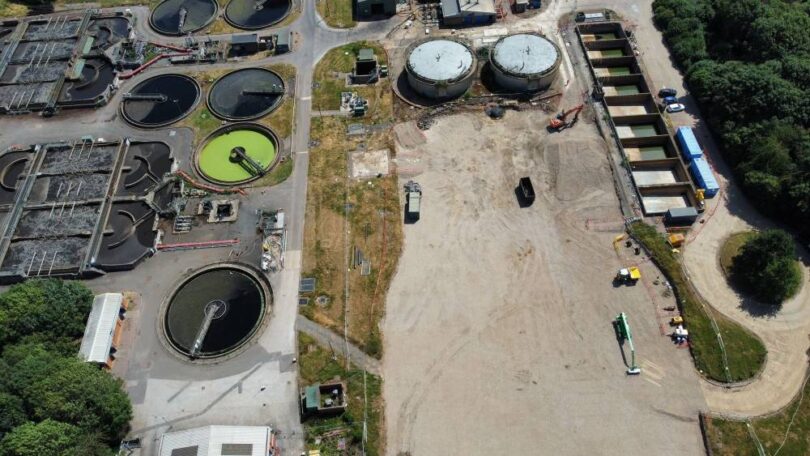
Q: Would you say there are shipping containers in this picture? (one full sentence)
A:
Yes, there's a shipping container here.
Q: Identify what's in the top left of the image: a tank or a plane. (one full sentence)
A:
The feature located in the top left of the image is a tank.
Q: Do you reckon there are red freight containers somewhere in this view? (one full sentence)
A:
No, no red freight container is visible in the view.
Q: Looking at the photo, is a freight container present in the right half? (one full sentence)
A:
Yes, a freight container shows up in the right half.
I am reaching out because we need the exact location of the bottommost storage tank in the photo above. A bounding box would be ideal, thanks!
[158,262,271,362]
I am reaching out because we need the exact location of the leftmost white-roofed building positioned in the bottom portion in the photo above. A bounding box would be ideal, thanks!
[79,292,127,369]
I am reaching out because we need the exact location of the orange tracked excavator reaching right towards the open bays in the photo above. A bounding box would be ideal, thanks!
[545,107,580,133]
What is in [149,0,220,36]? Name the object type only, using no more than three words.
storage tank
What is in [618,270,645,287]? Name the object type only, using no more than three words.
vehicle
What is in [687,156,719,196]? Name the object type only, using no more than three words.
shipping container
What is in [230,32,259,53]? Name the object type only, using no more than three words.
building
